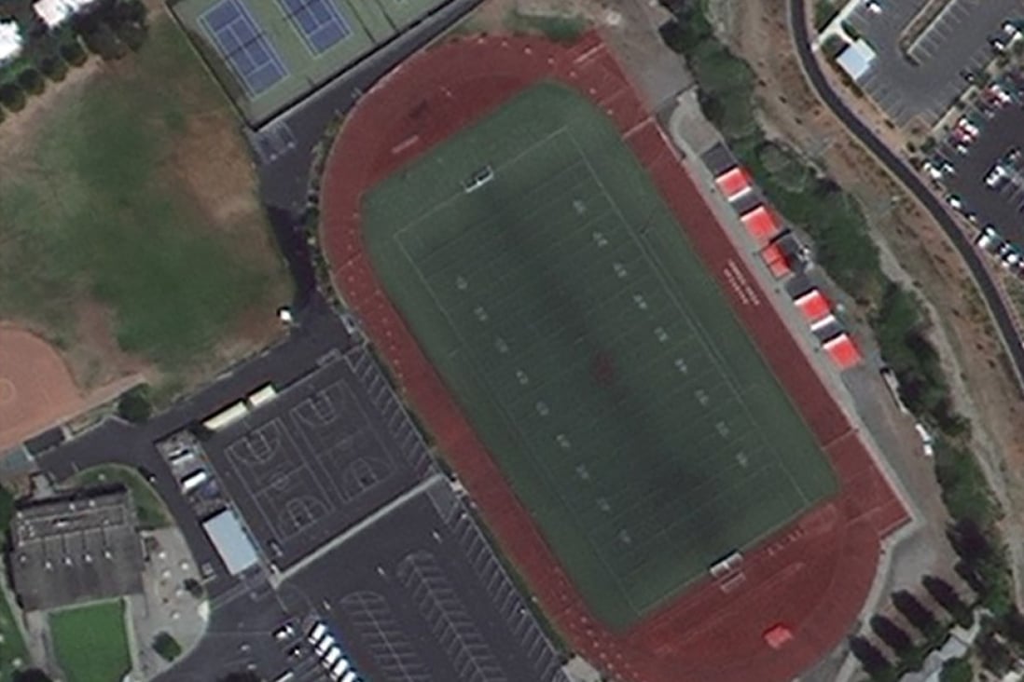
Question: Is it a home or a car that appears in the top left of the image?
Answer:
home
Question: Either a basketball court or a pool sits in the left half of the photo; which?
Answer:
basketball court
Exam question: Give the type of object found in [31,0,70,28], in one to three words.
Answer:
house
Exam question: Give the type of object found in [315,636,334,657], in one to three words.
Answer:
vehicle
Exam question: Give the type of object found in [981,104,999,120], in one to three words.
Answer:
car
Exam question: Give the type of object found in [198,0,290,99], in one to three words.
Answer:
tennis court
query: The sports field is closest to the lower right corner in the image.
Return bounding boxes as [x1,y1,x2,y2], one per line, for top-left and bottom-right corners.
[360,80,840,634]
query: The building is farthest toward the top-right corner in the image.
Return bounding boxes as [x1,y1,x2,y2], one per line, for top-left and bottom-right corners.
[838,38,876,79]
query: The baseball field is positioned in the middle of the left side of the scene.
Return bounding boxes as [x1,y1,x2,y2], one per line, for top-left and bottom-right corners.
[0,326,145,453]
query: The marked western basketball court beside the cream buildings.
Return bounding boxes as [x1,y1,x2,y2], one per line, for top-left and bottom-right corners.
[221,417,336,545]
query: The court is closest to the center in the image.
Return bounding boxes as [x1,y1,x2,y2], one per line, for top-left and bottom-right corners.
[287,380,398,504]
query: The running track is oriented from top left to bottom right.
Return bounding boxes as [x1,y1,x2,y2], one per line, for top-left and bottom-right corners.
[319,28,914,682]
